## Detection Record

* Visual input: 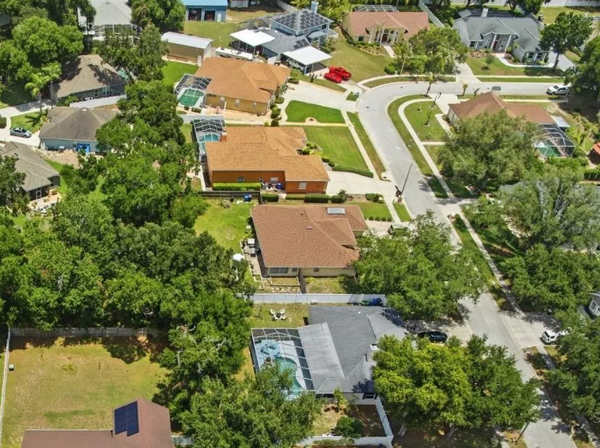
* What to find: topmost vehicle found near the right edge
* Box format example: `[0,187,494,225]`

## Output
[545,84,574,96]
